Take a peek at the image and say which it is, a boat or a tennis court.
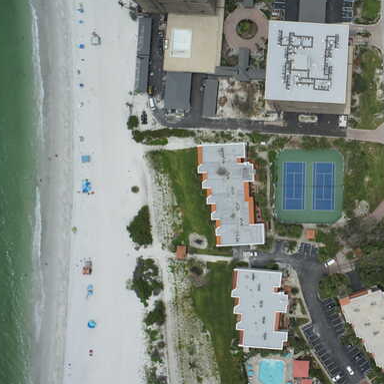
tennis court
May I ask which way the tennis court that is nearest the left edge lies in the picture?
up and down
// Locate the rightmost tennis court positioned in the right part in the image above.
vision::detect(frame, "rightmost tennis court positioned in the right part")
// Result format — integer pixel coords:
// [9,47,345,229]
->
[309,148,344,223]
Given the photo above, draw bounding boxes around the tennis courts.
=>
[274,149,309,223]
[309,148,344,223]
